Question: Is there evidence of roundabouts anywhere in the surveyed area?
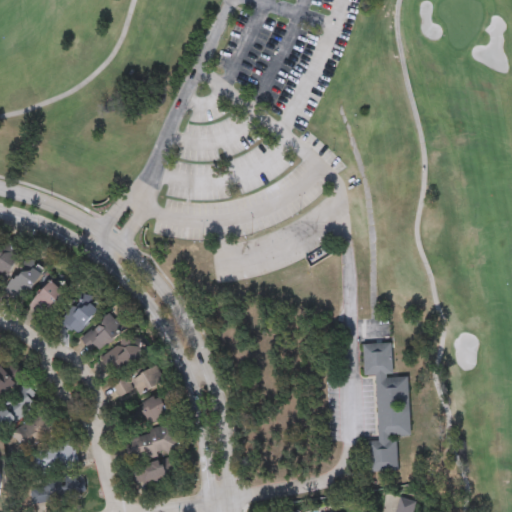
No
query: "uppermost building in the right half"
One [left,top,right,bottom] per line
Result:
[364,343,412,472]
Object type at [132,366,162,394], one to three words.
house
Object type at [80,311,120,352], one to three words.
house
